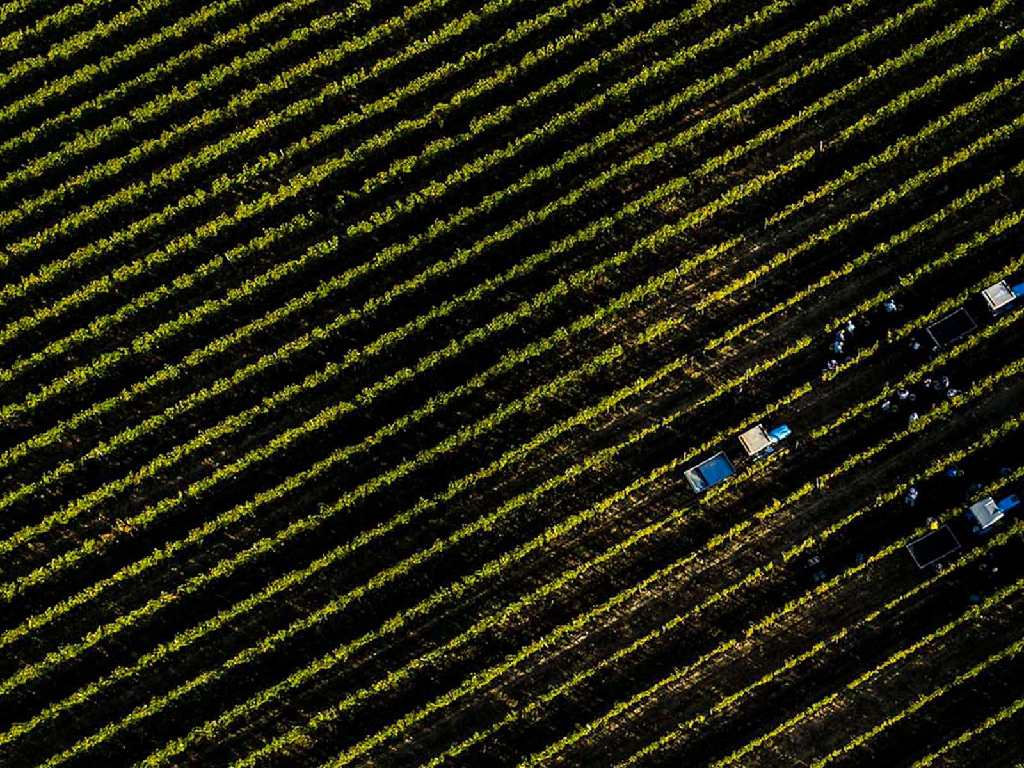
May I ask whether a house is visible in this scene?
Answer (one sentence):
No, the scene contains no house.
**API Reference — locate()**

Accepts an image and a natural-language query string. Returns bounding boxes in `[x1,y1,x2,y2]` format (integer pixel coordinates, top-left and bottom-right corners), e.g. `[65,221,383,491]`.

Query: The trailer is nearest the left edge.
[683,450,739,496]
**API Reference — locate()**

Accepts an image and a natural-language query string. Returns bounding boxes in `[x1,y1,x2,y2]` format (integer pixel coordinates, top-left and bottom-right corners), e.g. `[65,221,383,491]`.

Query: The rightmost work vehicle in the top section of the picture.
[976,281,1024,322]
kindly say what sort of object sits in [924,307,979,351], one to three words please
trailer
